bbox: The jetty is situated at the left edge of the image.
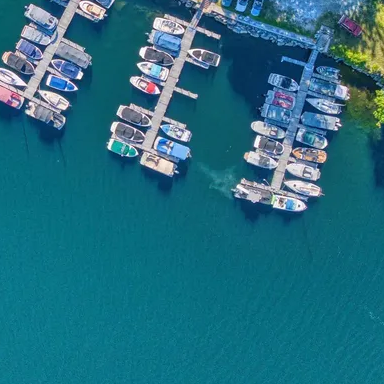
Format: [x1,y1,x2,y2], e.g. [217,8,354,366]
[0,0,97,113]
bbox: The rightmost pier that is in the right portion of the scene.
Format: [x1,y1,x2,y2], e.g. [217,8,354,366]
[239,46,342,202]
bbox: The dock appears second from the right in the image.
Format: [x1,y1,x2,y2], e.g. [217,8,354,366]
[111,6,221,163]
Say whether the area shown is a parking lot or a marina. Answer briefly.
marina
